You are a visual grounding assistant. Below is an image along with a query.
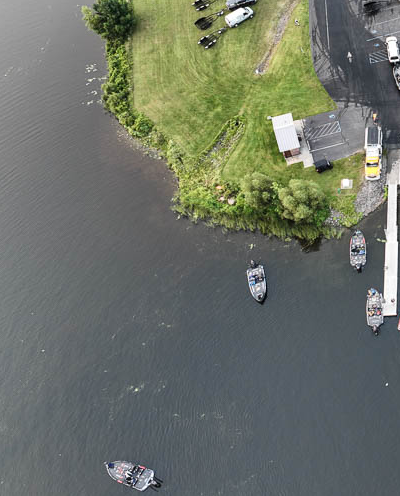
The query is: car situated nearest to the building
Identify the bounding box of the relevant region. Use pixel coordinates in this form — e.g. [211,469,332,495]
[311,158,335,173]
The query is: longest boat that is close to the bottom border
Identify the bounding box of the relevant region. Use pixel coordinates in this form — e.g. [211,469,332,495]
[102,458,163,491]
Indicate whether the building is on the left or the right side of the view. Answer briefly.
right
